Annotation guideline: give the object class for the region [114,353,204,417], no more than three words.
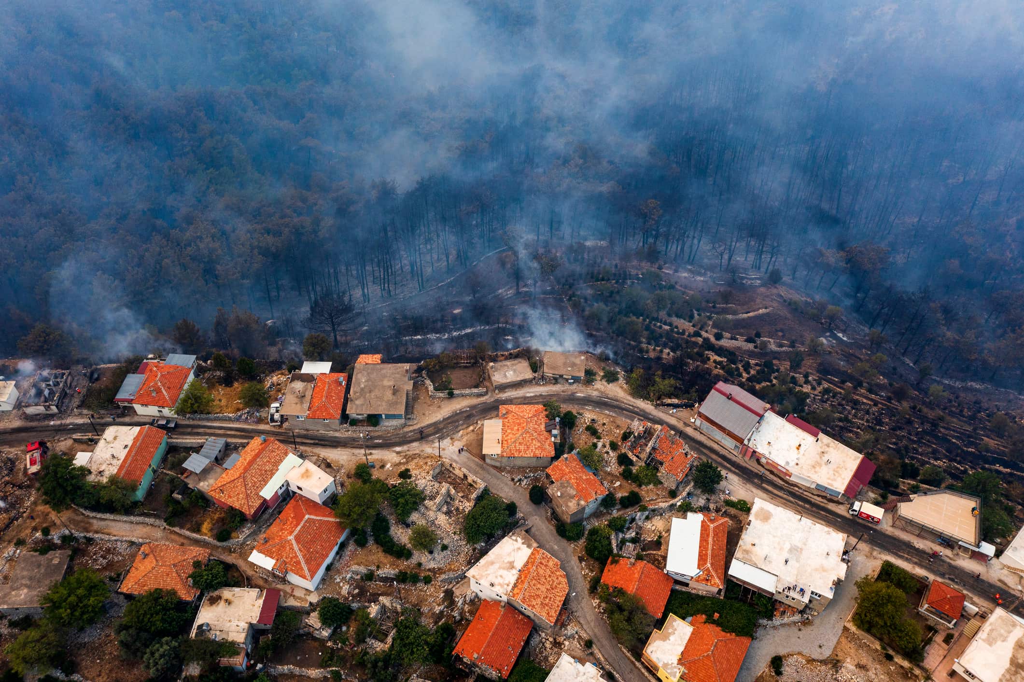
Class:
house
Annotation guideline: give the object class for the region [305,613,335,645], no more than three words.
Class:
shed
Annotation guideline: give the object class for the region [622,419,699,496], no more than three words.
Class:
house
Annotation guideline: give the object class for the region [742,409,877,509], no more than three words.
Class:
building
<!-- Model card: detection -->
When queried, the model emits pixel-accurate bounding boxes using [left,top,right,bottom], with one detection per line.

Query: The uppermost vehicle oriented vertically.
[266,399,282,426]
